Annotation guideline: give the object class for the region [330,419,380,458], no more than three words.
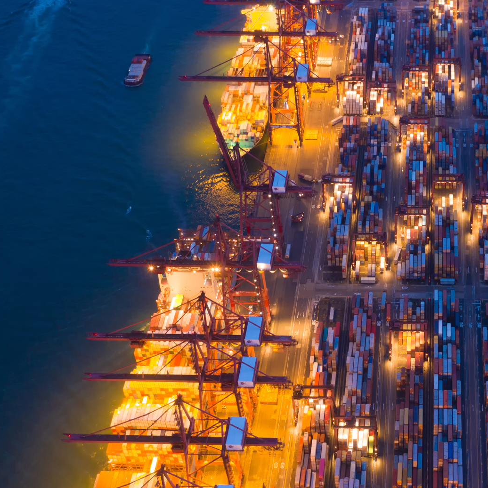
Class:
container crane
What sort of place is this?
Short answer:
port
